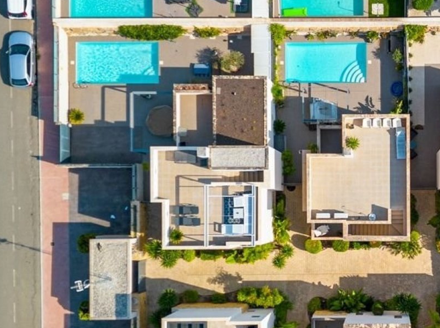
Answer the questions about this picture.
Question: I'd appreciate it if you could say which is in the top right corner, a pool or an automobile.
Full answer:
The one visible in the top right corner is a pool.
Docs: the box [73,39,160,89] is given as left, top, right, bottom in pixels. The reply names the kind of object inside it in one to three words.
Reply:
swimming pool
